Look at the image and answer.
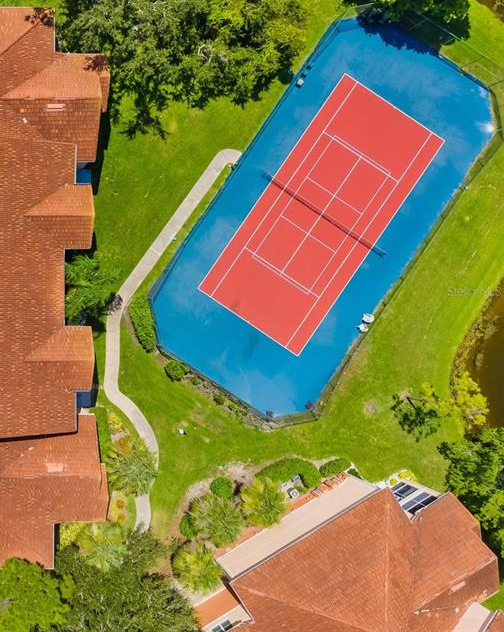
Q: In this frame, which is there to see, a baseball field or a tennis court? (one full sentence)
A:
The image shows a tennis court.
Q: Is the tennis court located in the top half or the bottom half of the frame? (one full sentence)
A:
The top half of the photo is where the tennis court is.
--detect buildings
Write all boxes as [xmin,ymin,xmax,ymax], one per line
[0,6,106,568]
[192,472,504,632]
